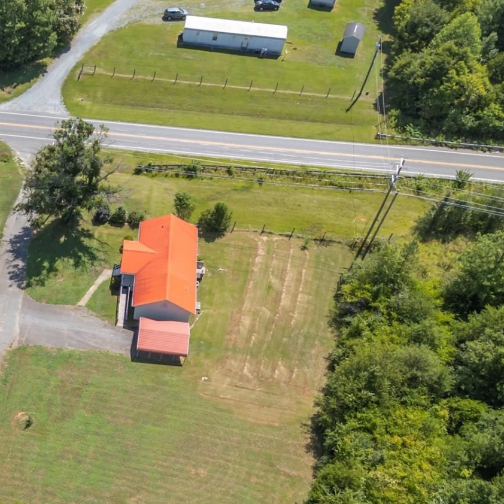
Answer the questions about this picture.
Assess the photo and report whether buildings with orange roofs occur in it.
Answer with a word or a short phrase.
Yes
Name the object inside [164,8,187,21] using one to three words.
vehicle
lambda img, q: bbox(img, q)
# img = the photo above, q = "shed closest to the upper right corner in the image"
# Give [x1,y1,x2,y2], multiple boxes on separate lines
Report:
[340,24,366,54]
